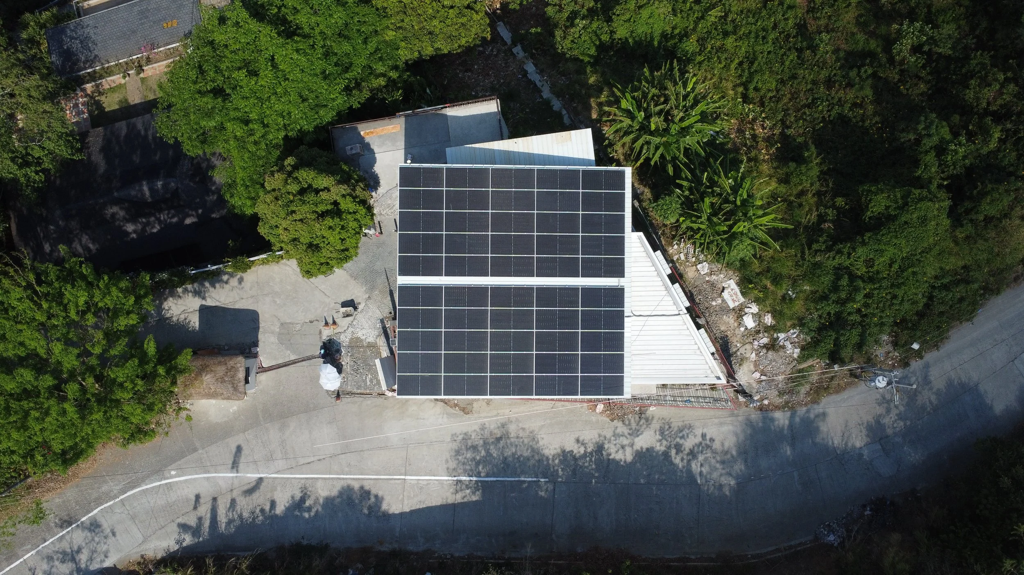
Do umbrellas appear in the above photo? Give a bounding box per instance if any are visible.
[316,363,338,386]
[320,376,342,395]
